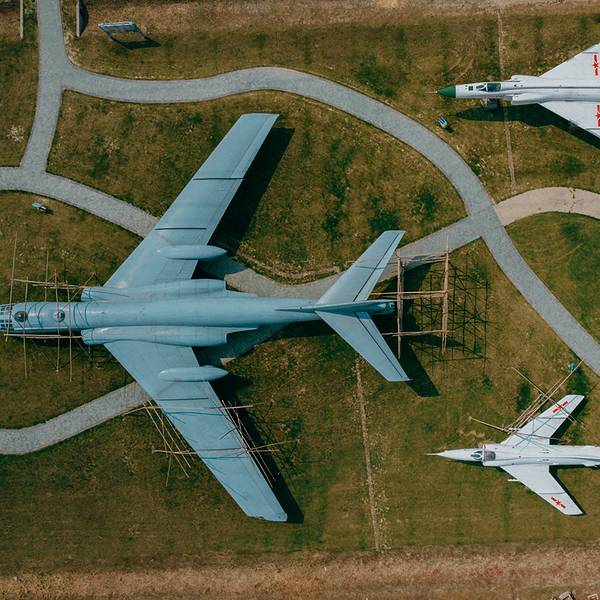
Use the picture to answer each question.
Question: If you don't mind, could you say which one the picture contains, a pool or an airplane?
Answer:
airplane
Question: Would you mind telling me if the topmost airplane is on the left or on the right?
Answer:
right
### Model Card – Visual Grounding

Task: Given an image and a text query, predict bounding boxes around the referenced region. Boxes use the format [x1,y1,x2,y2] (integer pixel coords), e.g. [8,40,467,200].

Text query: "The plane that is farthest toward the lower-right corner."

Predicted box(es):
[427,395,600,515]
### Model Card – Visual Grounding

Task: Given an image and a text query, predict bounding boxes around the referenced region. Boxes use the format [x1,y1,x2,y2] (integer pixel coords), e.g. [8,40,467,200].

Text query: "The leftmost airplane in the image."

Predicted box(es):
[0,113,411,521]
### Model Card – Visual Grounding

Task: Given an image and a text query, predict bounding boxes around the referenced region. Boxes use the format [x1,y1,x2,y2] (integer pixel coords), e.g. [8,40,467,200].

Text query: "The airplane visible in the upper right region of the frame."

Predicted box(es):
[431,45,600,138]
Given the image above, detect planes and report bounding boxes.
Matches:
[431,45,600,138]
[0,113,411,521]
[427,395,600,515]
